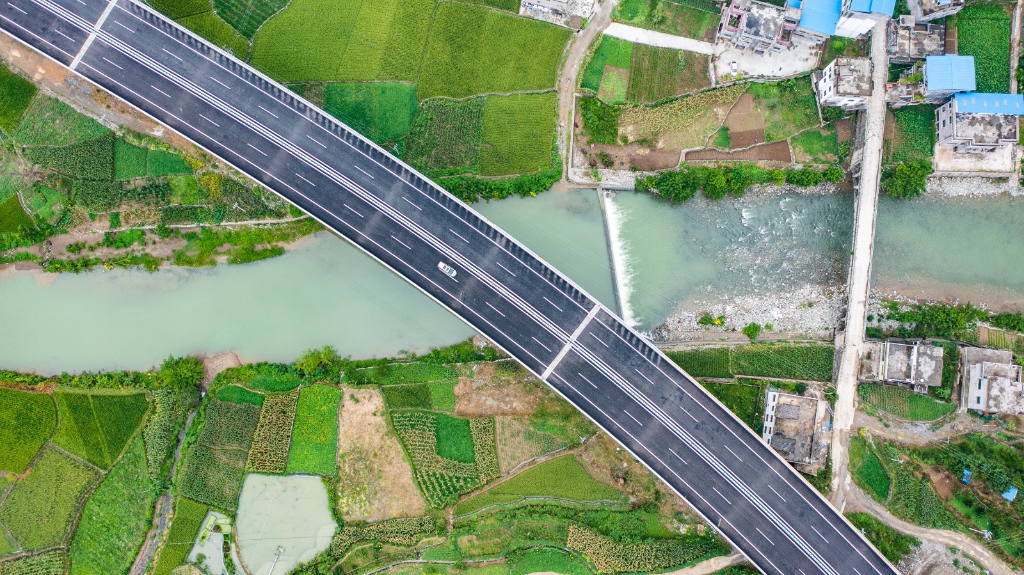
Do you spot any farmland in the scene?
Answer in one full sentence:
Yes, there's farmland in this view.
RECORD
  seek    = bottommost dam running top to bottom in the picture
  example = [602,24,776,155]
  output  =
[600,189,632,327]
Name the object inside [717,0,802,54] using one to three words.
house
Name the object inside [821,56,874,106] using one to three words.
house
